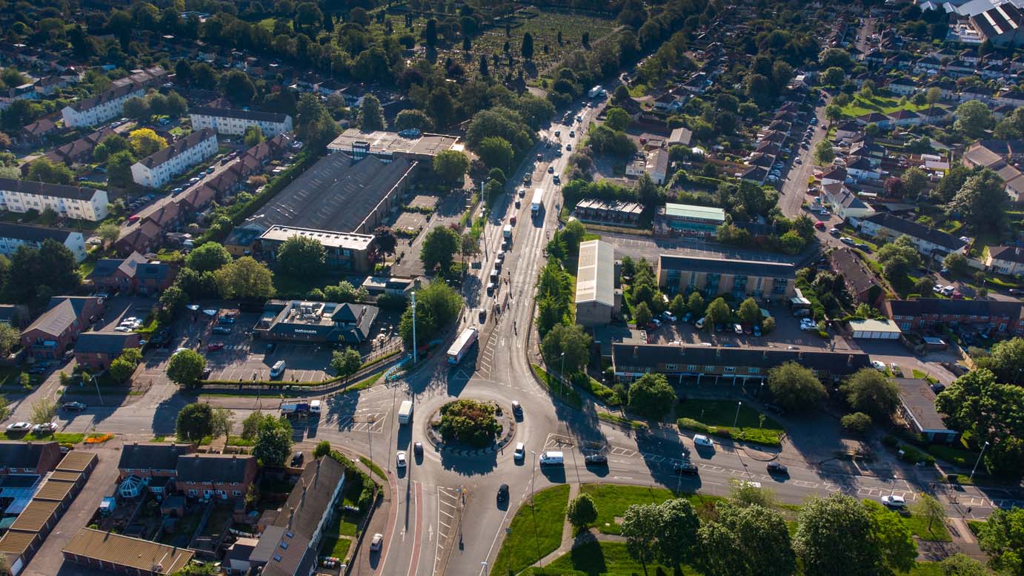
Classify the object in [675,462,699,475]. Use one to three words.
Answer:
vehicle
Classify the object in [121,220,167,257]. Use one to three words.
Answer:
house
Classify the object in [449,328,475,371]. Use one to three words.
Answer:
truck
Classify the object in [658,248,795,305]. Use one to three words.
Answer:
building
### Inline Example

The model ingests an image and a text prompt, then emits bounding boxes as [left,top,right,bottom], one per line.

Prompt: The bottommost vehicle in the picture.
[368,534,383,553]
